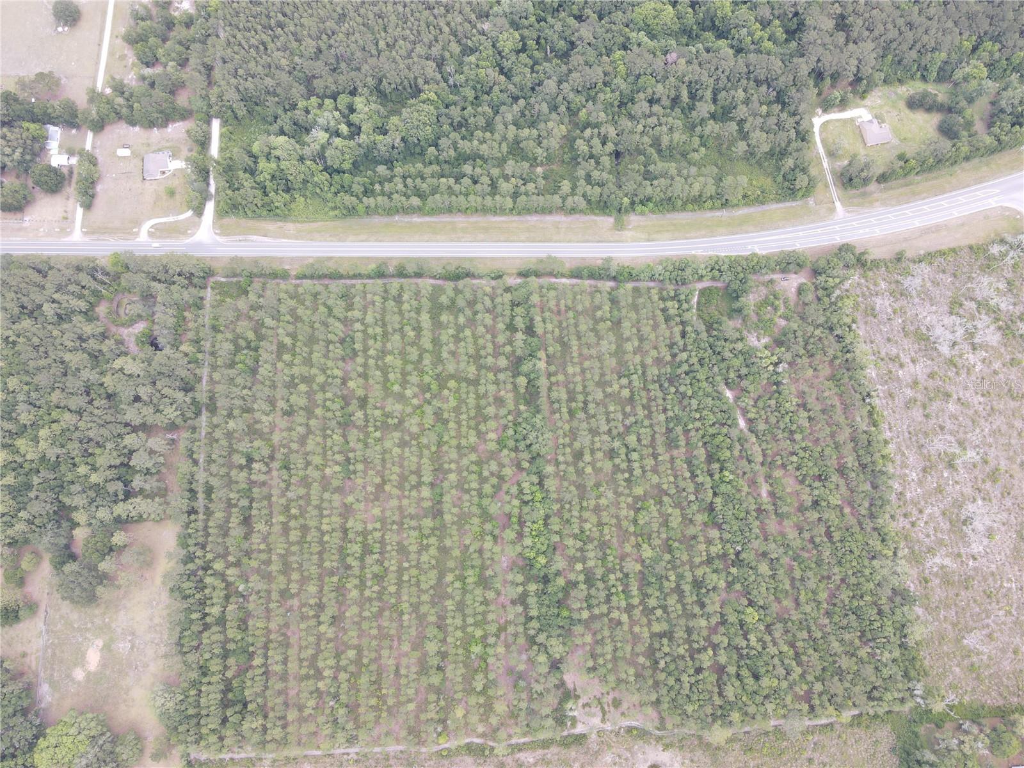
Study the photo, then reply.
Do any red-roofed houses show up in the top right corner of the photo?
No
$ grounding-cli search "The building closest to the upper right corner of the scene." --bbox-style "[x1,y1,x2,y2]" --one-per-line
[857,113,894,148]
